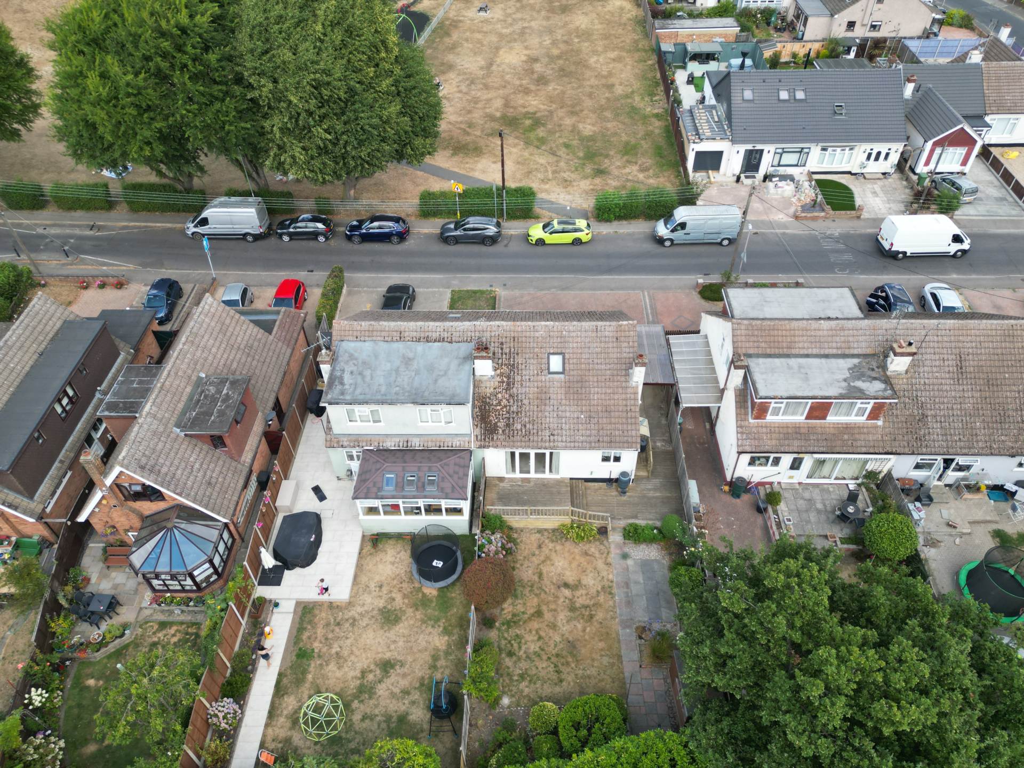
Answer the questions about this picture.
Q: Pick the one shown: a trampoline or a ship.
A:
trampoline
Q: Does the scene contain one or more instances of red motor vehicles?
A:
Yes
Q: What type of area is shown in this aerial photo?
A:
residential area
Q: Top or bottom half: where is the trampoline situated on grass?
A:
bottom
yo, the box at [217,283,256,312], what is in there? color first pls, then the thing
gray car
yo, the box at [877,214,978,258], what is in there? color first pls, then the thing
white van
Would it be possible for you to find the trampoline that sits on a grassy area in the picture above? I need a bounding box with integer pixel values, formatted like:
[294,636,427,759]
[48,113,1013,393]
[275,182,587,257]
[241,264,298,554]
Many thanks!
[407,522,463,588]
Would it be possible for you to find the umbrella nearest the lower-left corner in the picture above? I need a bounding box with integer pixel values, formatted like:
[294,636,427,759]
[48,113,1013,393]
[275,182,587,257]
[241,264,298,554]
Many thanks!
[256,548,285,587]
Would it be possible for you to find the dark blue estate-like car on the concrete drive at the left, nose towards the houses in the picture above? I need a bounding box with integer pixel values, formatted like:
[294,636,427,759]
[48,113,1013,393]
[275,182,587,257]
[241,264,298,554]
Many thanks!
[138,278,191,331]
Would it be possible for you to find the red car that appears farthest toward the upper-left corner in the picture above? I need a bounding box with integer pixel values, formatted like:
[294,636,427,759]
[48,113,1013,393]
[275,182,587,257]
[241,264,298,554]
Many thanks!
[265,281,307,312]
